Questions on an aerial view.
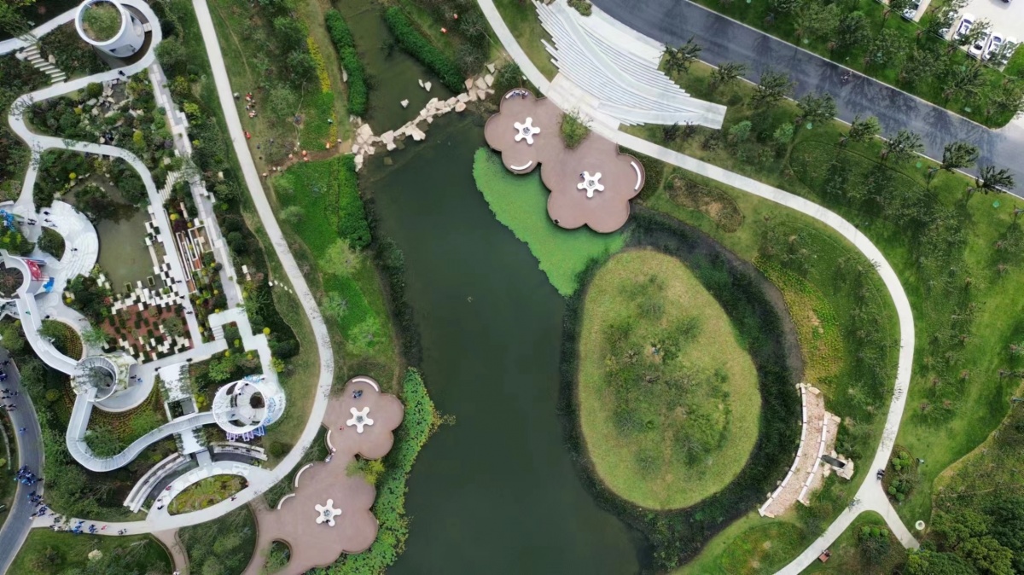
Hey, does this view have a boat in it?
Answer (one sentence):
No, no boat is visible in the view.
